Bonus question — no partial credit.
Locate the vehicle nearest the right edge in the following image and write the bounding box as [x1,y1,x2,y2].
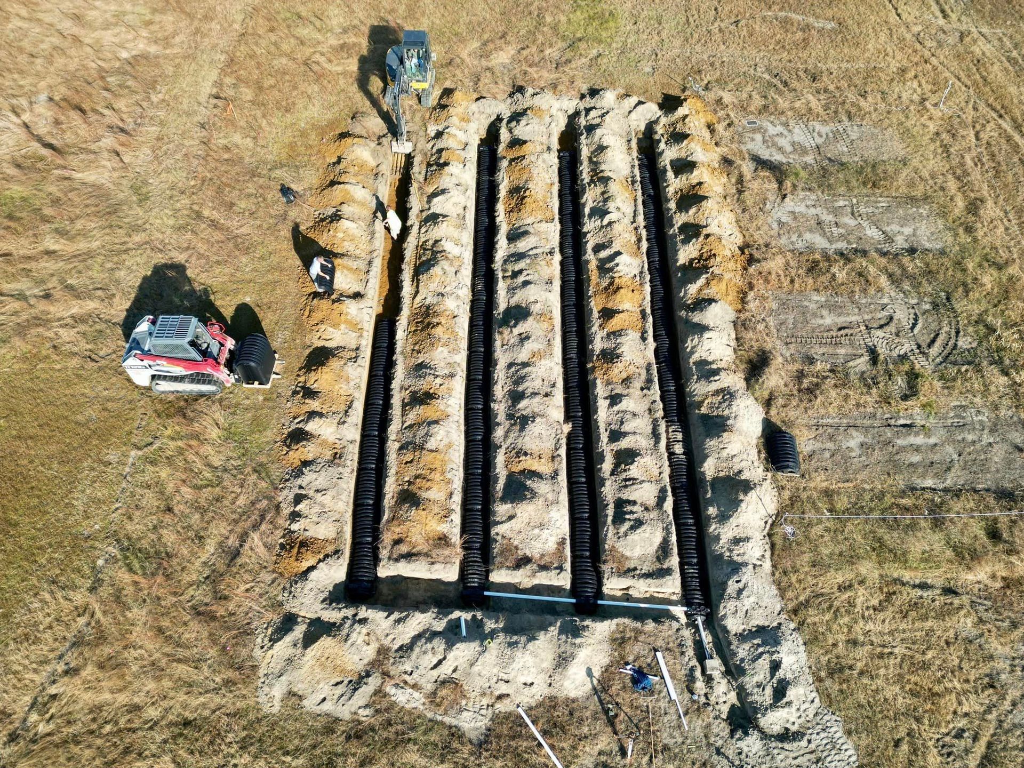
[380,27,437,154]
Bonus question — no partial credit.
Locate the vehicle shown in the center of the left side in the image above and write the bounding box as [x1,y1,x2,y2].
[121,315,241,394]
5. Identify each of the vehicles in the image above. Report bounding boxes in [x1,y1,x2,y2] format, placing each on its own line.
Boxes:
[121,315,241,394]
[380,27,437,154]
